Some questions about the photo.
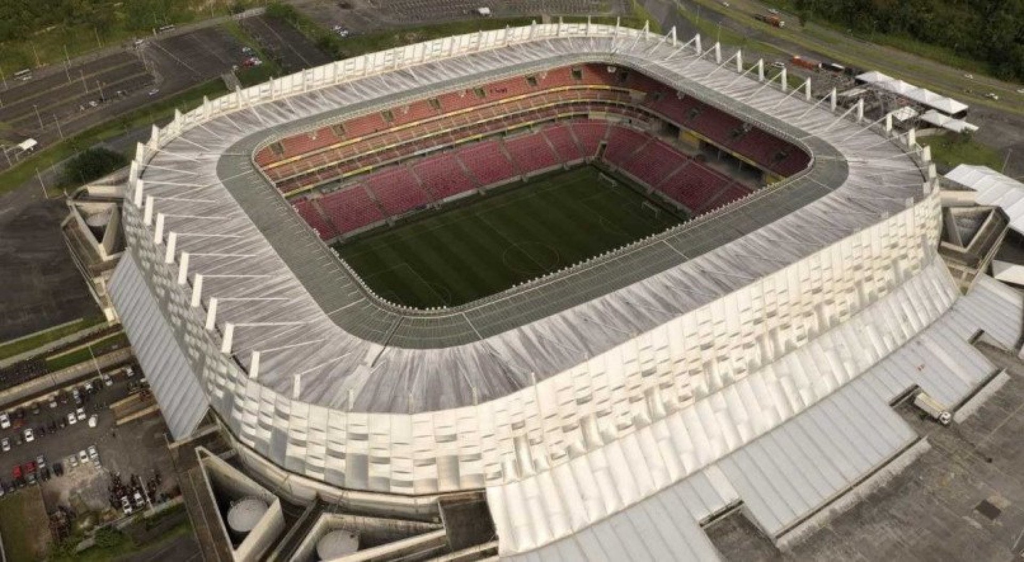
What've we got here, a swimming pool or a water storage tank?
water storage tank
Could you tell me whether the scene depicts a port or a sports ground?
sports ground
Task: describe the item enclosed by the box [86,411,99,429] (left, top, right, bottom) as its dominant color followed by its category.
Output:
white vehicle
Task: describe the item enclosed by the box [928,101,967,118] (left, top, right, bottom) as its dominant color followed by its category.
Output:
white tent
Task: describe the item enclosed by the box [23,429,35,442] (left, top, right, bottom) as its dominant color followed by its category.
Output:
white vehicle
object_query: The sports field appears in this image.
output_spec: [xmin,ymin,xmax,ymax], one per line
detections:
[344,169,678,310]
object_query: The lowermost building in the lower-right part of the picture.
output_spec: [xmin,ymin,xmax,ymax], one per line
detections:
[479,279,1024,562]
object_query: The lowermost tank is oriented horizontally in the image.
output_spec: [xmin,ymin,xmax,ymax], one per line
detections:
[314,531,365,560]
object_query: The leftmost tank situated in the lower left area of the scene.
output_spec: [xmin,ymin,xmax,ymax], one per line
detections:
[224,496,265,544]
